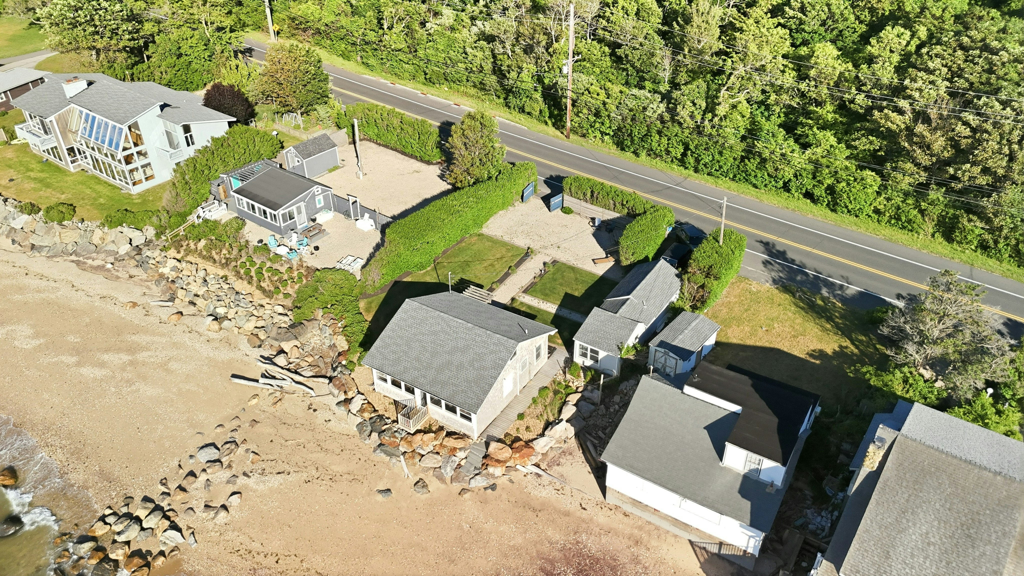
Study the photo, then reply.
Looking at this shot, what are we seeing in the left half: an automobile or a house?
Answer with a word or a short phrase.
house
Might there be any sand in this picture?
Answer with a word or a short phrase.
Yes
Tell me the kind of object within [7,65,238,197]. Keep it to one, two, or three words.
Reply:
house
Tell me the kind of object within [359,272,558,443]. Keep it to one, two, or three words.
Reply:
house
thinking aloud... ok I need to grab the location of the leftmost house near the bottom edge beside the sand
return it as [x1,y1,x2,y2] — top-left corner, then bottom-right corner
[599,356,823,572]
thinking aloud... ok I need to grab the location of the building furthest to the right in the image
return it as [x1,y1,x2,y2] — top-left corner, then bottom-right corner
[807,400,1024,576]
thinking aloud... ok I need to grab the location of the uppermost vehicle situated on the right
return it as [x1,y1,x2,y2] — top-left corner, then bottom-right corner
[680,224,710,250]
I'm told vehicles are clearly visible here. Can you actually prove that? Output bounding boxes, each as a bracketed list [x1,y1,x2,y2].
[680,224,710,250]
[667,248,698,279]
